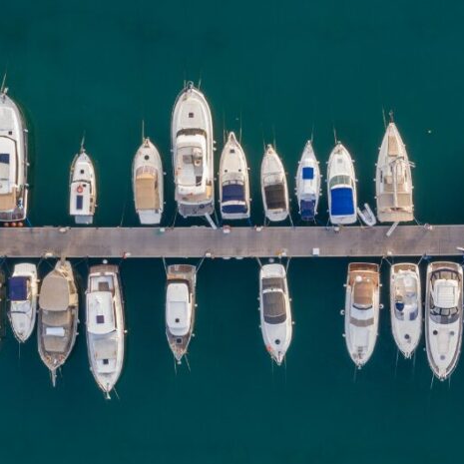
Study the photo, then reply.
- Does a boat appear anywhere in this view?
Yes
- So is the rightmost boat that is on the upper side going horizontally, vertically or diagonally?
vertically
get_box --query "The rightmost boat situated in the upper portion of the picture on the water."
[371,111,426,235]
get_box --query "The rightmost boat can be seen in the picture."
[422,256,464,390]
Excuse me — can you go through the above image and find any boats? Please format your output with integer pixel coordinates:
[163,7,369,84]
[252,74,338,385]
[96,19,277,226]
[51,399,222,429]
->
[0,75,31,226]
[67,136,98,228]
[259,140,293,227]
[164,255,203,370]
[5,256,41,349]
[322,131,364,227]
[360,202,379,224]
[340,254,393,381]
[215,124,253,226]
[171,80,219,228]
[422,256,464,390]
[125,133,166,227]
[35,251,82,385]
[256,254,295,376]
[82,255,129,398]
[293,135,323,227]
[385,254,426,372]
[371,111,426,235]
